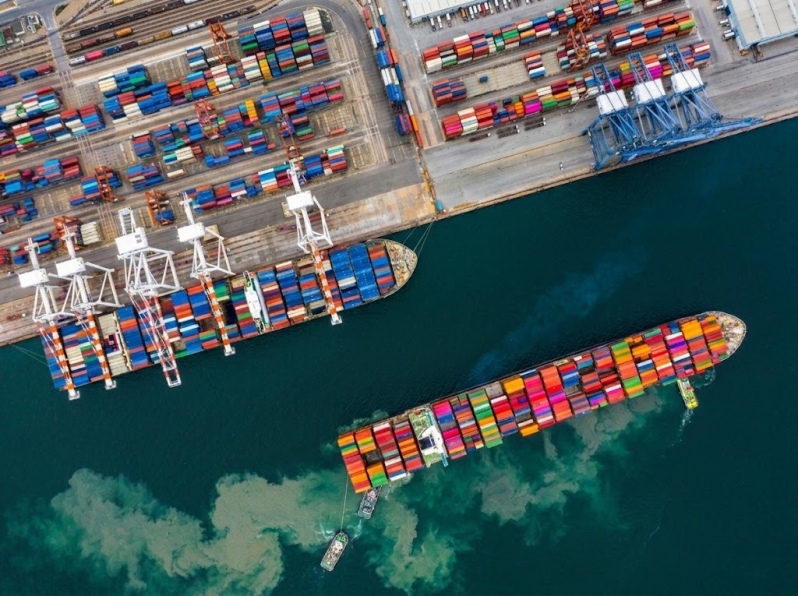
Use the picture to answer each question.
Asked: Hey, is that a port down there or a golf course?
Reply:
port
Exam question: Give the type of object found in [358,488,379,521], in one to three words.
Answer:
boat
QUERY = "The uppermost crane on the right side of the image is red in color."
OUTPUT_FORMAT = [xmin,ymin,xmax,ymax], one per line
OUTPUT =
[555,0,595,44]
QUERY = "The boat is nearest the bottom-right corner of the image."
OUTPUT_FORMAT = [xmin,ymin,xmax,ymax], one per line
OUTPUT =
[680,380,697,409]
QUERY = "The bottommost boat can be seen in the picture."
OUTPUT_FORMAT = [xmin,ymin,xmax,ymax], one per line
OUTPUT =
[320,533,345,572]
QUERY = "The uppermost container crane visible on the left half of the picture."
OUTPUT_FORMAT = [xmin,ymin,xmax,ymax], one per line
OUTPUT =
[210,20,241,65]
